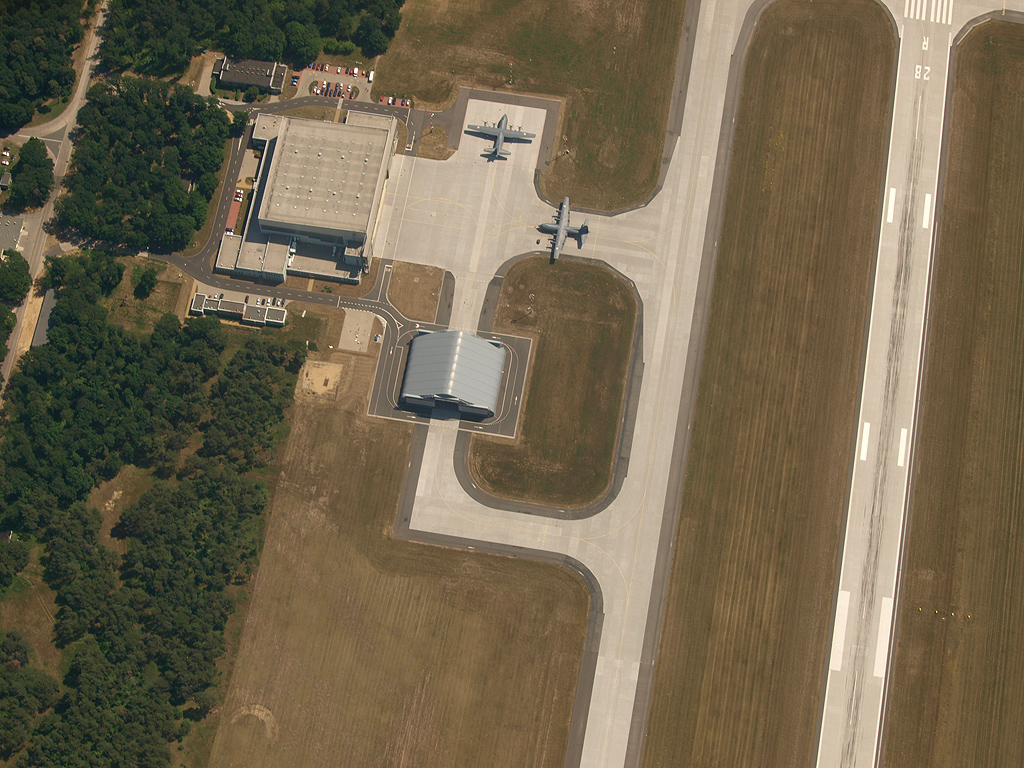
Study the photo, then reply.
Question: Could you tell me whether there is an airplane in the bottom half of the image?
No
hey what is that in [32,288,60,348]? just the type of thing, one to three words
shed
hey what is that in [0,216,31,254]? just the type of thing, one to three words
building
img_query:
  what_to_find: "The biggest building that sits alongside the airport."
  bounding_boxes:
[216,110,398,284]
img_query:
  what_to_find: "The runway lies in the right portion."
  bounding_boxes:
[816,0,954,768]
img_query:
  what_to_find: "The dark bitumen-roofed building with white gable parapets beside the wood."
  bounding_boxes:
[213,56,288,95]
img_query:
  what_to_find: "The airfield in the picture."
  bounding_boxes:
[372,0,1024,768]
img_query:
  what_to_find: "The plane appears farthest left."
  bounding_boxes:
[467,115,537,157]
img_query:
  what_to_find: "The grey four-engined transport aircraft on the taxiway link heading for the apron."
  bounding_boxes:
[540,196,592,259]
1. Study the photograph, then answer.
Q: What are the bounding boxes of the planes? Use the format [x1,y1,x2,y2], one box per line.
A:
[540,196,592,259]
[467,115,537,157]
